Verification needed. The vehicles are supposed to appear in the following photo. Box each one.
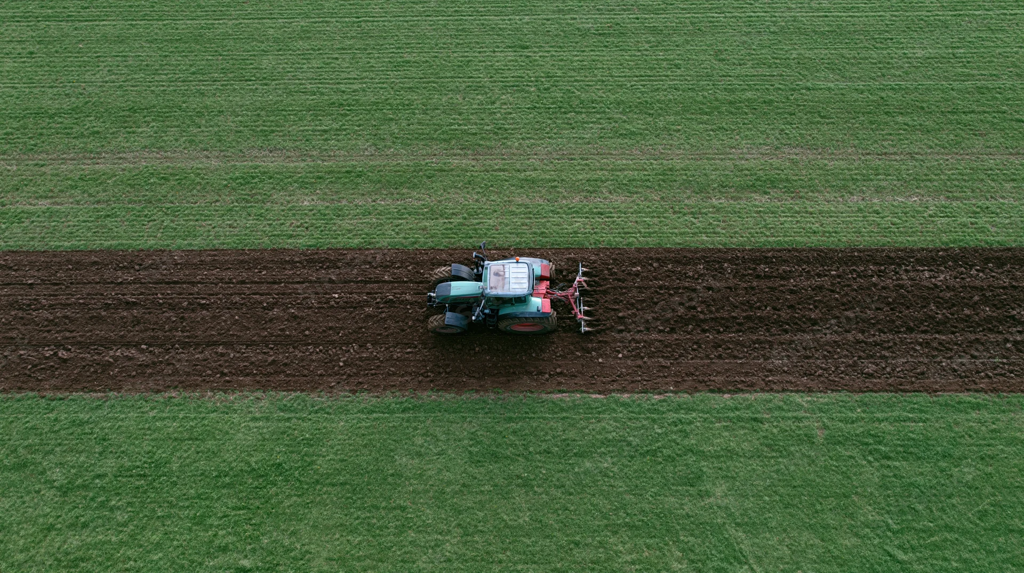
[427,240,556,335]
